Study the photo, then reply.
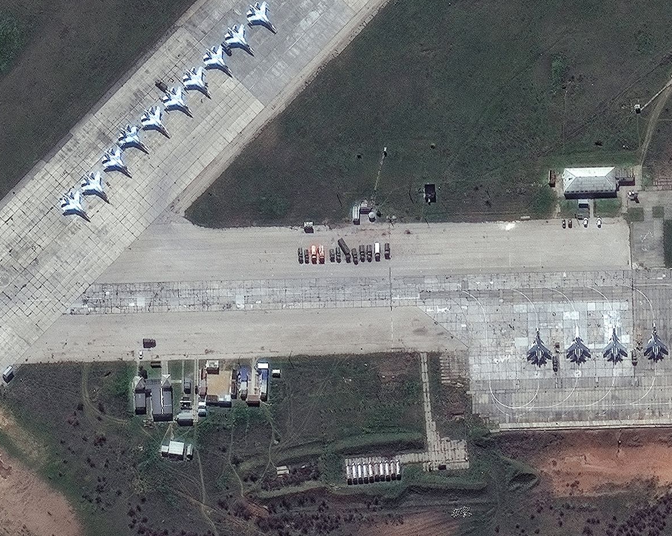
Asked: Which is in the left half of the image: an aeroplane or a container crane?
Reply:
aeroplane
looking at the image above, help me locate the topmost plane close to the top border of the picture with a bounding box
[246,1,276,32]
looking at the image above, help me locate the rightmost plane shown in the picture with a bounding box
[642,321,669,361]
